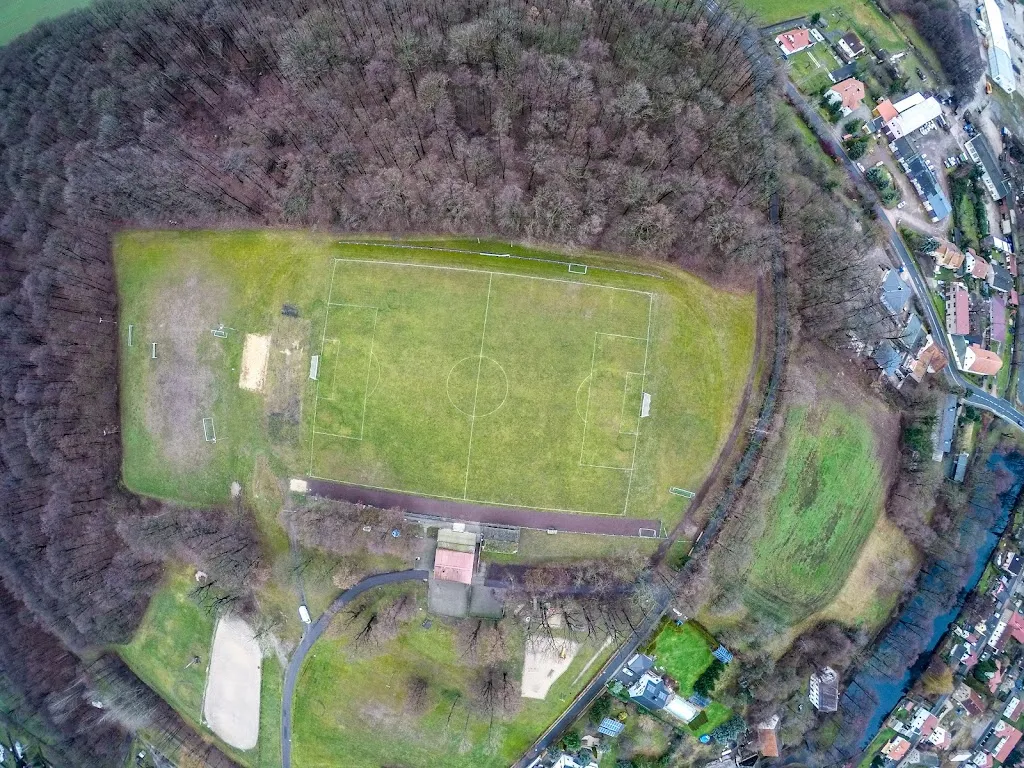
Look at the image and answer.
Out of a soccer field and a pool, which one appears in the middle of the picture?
soccer field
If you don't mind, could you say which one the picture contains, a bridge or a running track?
running track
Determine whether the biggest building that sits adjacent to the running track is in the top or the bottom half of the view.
bottom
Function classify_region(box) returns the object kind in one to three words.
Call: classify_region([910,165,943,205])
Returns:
building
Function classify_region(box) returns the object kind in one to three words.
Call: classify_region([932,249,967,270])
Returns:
house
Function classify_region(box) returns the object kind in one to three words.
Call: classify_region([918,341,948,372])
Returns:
house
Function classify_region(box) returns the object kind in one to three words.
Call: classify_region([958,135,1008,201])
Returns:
shed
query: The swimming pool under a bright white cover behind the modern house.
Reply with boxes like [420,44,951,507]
[669,694,697,721]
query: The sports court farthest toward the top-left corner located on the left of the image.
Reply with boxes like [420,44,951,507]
[239,334,271,391]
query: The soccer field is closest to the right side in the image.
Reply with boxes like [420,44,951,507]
[305,255,658,518]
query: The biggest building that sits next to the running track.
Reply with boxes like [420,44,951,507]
[434,529,477,586]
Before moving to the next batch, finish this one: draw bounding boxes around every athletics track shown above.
[306,480,661,538]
